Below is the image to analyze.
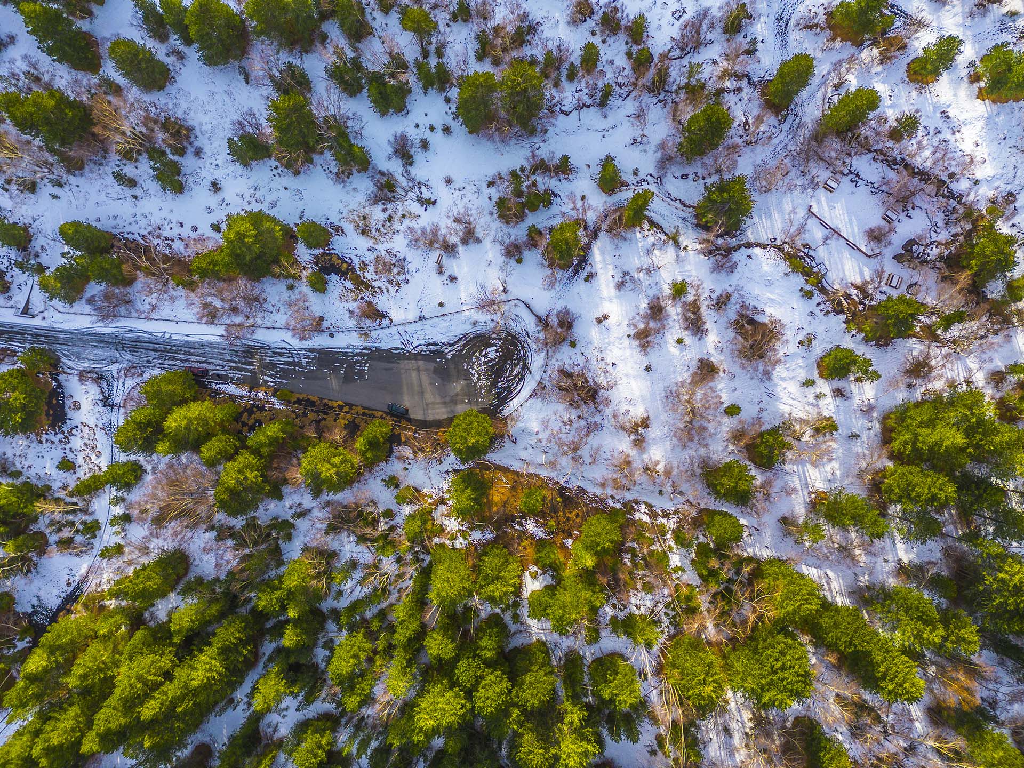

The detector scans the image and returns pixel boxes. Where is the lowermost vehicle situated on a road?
[386,403,408,416]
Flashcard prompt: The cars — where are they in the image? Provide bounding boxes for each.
[386,403,408,416]
[184,367,207,378]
